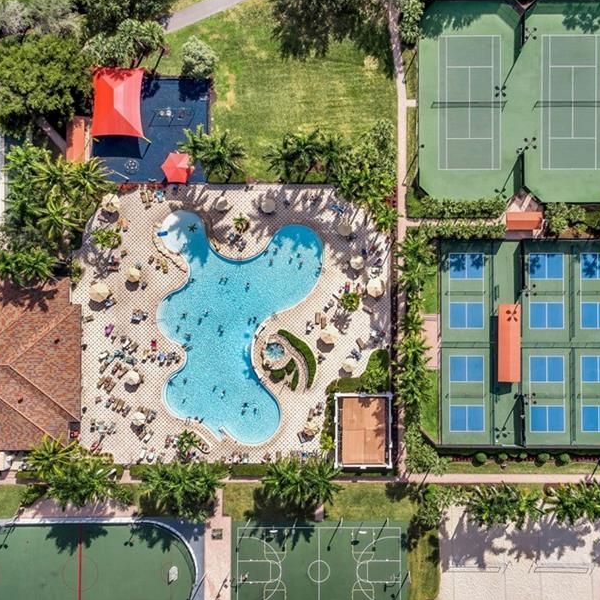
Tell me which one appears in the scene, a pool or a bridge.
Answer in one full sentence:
I can see a pool in this picture.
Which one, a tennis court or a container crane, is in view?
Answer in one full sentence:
This aerial view contains a tennis court.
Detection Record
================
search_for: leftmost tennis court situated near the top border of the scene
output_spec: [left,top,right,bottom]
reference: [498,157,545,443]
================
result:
[418,0,523,200]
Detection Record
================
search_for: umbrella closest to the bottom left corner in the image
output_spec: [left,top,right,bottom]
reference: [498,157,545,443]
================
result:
[132,410,147,425]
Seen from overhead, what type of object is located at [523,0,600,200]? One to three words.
tennis court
